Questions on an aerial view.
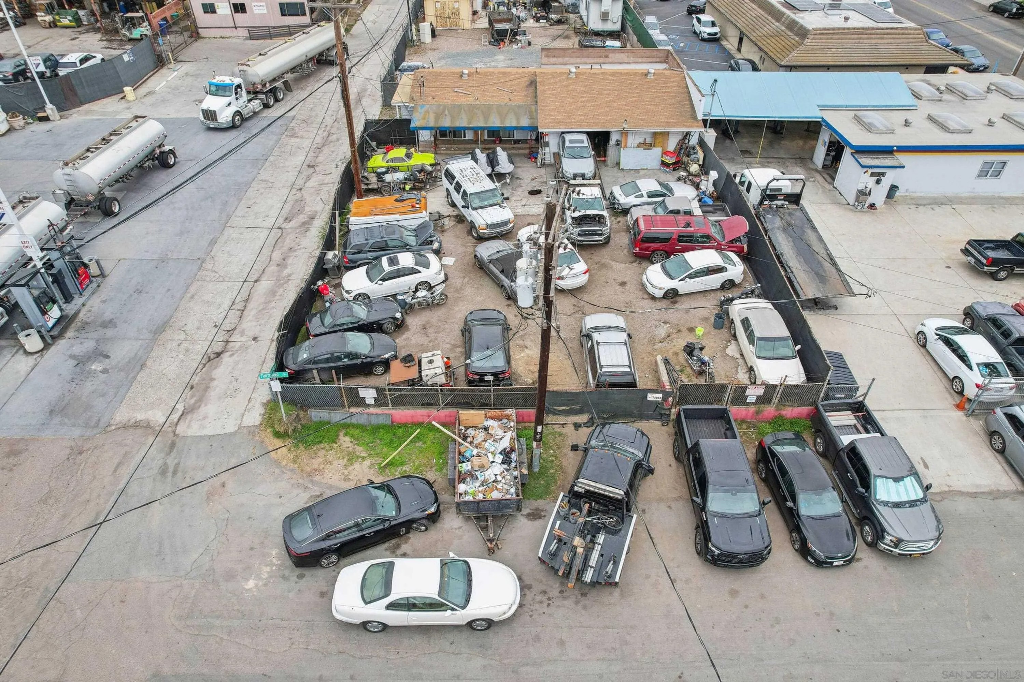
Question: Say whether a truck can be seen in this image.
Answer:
Yes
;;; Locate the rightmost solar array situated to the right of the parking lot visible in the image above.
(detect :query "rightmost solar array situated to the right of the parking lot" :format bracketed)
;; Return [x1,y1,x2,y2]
[844,3,904,23]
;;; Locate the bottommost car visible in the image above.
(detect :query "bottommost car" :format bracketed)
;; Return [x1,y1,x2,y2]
[330,545,522,632]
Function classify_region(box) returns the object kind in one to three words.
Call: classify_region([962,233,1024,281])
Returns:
truck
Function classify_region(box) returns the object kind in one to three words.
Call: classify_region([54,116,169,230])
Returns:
trailer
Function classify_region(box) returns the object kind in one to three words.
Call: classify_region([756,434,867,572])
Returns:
car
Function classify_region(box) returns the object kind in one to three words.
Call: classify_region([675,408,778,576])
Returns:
truck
